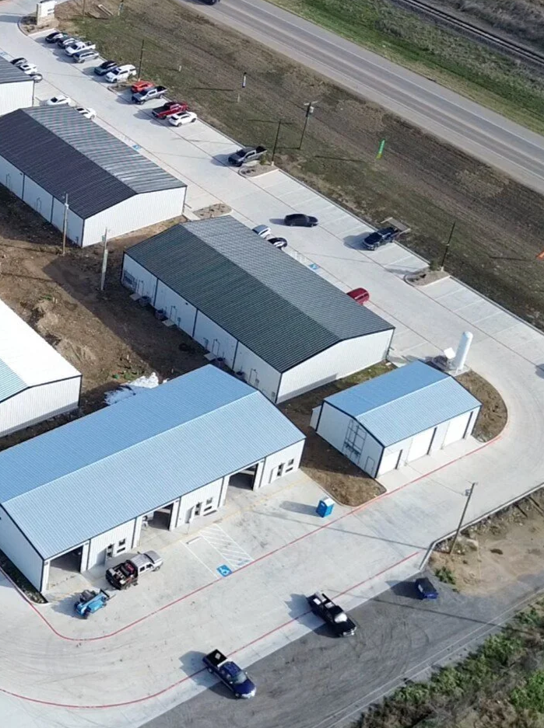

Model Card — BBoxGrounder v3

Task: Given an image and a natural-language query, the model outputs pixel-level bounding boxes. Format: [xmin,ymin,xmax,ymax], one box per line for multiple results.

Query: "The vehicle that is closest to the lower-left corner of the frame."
[72,585,120,620]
